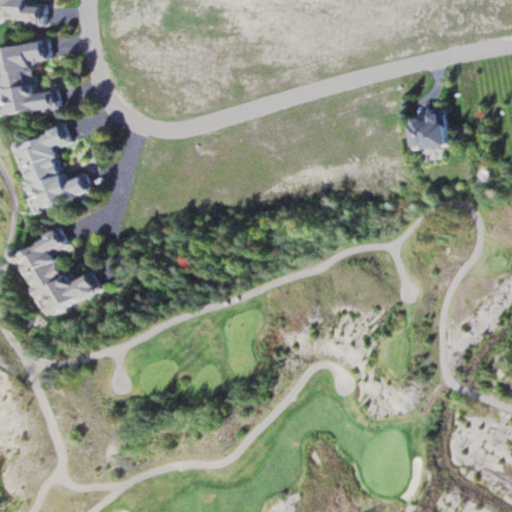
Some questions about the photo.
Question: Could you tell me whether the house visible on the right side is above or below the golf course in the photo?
above it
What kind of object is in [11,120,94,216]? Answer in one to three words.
house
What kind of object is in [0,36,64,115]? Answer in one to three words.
house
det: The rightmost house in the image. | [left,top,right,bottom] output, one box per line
[404,104,446,161]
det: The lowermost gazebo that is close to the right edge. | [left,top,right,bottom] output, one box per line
[477,167,490,181]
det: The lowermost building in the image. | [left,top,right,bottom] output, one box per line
[6,226,104,328]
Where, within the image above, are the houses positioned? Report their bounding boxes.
[404,104,446,161]
[11,120,94,216]
[0,36,64,115]
[6,226,104,328]
[0,0,51,28]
